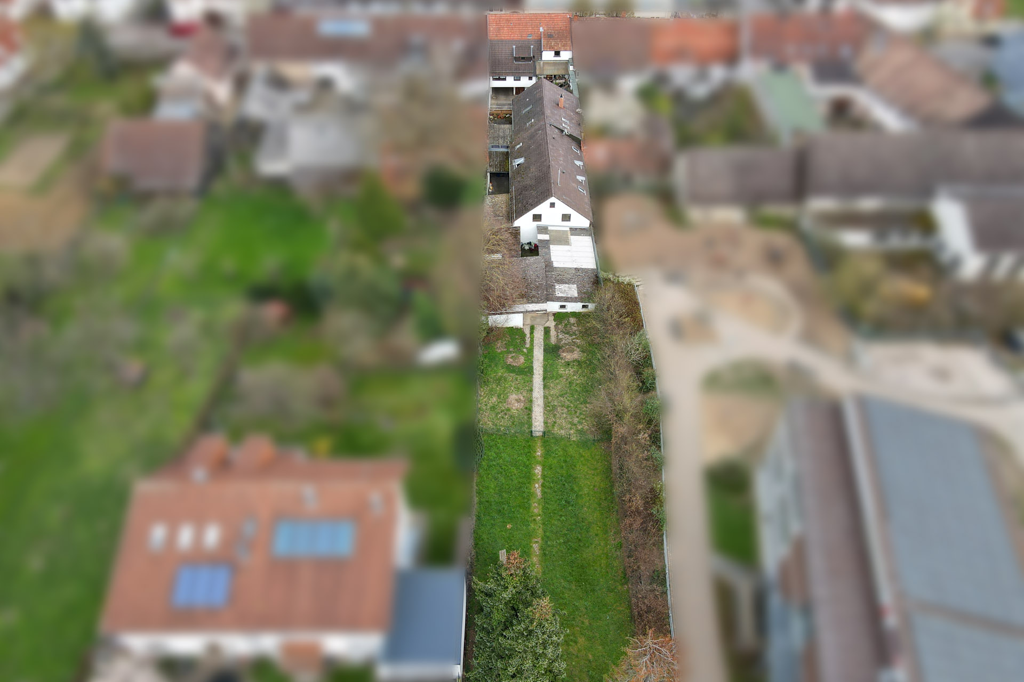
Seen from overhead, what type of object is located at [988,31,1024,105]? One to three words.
building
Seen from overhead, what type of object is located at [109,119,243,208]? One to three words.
barn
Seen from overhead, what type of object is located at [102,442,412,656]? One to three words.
house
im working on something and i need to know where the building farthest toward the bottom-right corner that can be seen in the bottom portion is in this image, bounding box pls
[778,395,1024,682]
